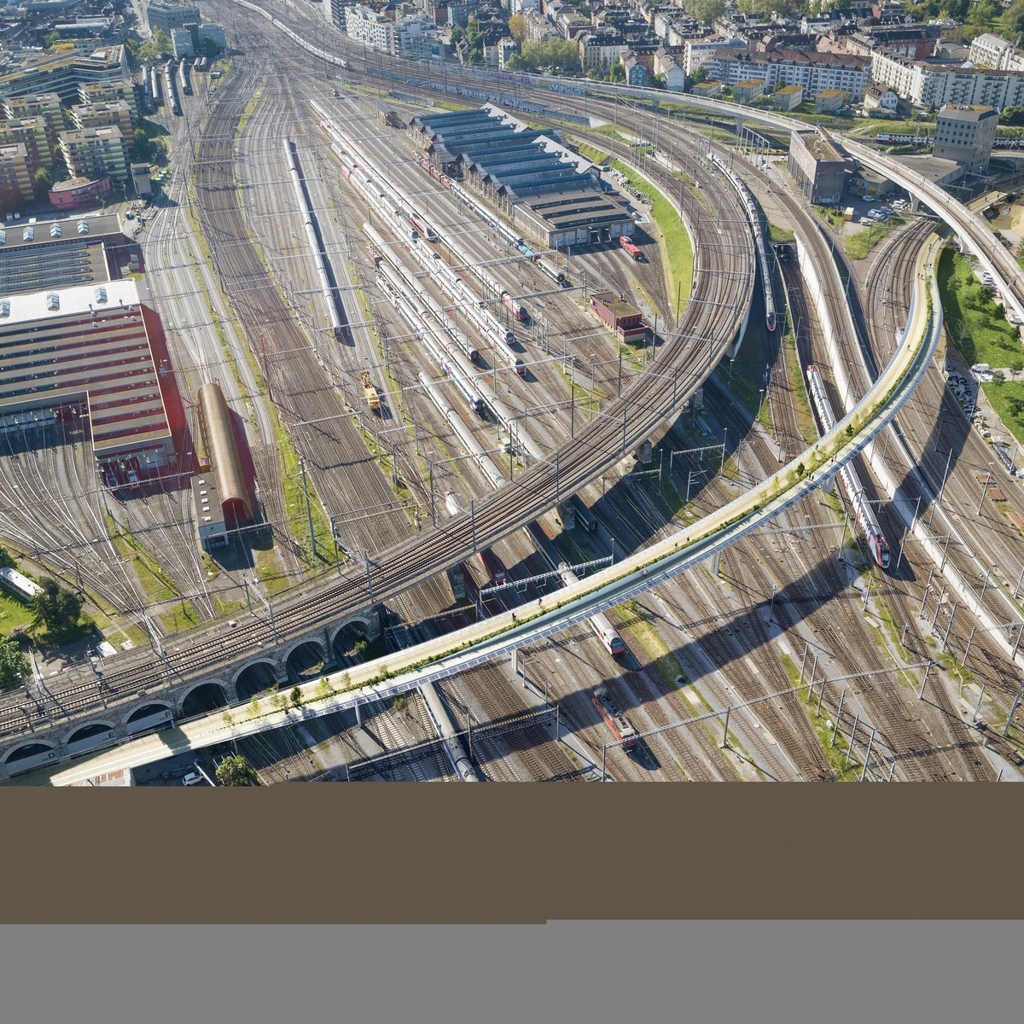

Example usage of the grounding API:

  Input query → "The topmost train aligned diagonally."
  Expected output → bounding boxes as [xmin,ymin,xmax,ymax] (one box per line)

[226,0,350,74]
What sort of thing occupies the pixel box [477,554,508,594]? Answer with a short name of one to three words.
rail car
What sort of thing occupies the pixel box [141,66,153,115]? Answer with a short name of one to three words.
train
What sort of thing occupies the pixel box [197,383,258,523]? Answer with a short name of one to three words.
shed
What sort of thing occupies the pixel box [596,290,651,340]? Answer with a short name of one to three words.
building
